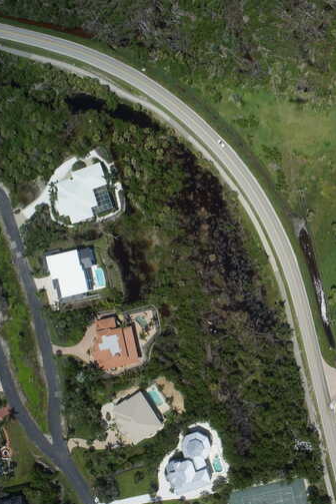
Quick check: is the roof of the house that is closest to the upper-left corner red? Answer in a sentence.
No, the color of the roof of the house that is closest to the upper-left corner is white.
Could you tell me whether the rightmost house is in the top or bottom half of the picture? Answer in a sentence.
The rightmost house sits in the bottom half of the picture.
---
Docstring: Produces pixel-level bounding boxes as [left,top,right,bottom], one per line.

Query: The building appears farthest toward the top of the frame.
[50,161,116,227]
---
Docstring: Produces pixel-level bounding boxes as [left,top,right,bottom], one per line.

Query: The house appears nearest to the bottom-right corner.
[162,428,213,498]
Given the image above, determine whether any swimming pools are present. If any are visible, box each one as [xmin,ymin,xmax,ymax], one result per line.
[148,390,165,405]
[213,456,223,473]
[135,315,148,327]
[94,266,106,287]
